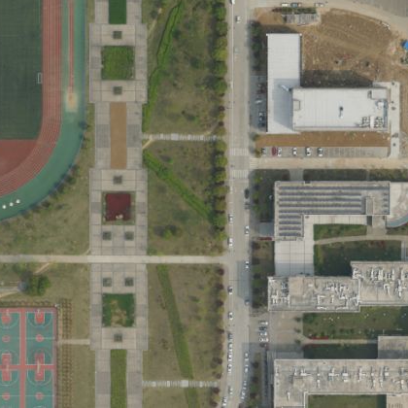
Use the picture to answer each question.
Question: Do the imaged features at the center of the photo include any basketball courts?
No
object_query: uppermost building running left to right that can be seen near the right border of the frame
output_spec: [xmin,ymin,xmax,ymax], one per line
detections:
[293,87,390,130]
